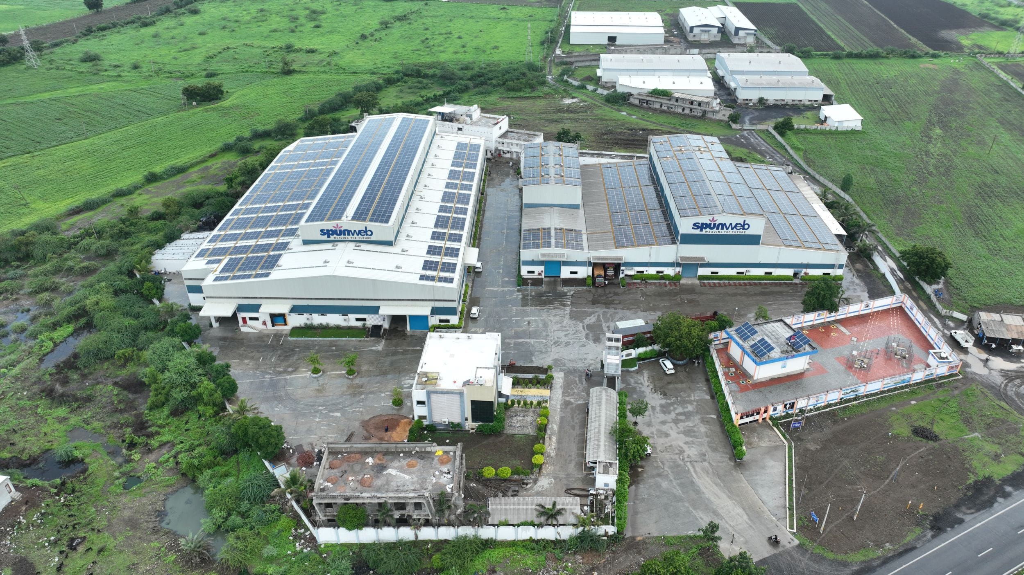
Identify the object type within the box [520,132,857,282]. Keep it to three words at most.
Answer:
building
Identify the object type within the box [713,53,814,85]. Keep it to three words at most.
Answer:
shed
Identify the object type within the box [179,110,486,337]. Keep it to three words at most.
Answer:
warehouse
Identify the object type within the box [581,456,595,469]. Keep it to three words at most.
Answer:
vehicle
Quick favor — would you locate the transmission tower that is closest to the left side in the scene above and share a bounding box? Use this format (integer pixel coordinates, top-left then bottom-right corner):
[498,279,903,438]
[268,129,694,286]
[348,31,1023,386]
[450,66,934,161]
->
[6,8,43,69]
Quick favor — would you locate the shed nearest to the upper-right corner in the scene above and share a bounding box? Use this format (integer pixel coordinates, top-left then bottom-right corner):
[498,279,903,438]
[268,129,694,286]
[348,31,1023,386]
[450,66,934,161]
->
[819,105,864,131]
